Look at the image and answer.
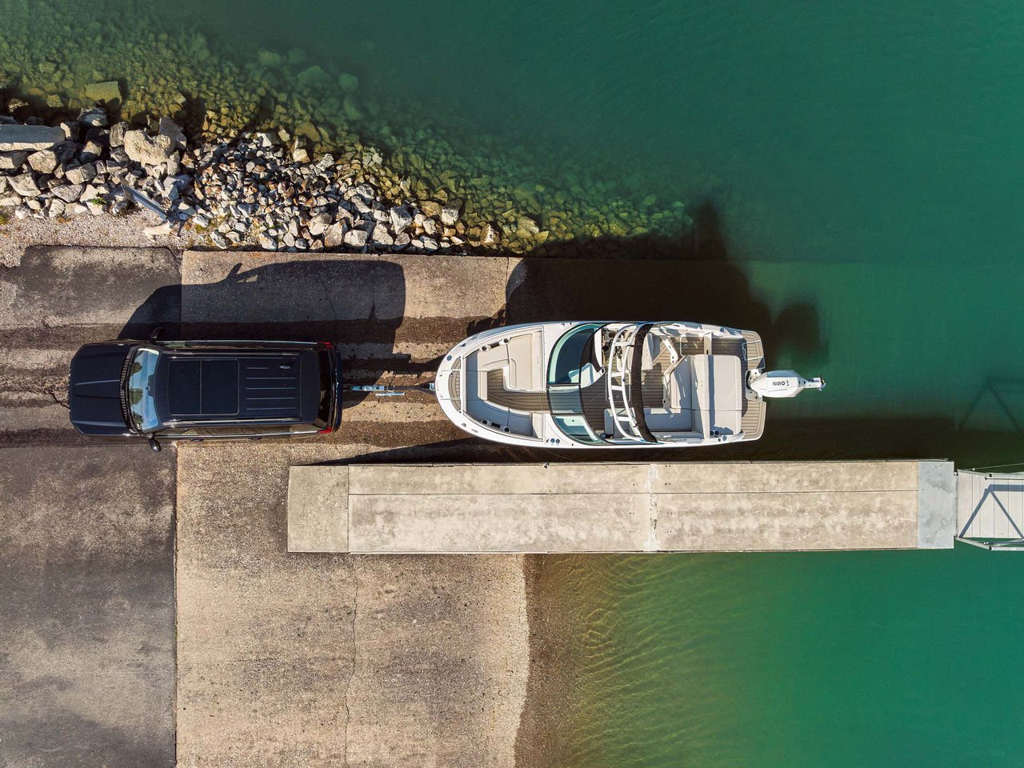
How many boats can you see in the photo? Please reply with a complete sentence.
Just 1 boat appears in this view.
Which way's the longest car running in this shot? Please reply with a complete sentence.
I'd say the longest car is aligned from side to side in the picture.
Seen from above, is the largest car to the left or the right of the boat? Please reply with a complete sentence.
You can see the largest car positioned to the left of the boat.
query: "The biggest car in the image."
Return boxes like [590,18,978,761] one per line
[68,326,346,454]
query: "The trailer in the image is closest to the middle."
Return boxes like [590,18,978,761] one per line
[349,378,438,401]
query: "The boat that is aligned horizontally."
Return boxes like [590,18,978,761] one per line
[434,319,829,450]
